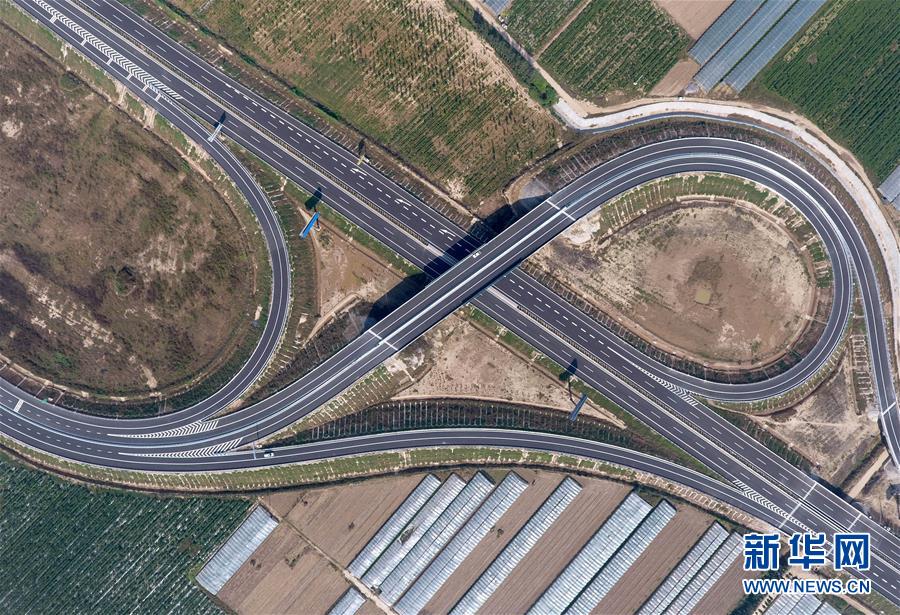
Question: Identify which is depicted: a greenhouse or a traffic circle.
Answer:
greenhouse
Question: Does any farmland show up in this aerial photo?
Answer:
Yes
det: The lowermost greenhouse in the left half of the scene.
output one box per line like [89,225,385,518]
[327,586,366,615]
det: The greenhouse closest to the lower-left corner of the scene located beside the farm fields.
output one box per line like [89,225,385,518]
[197,504,279,594]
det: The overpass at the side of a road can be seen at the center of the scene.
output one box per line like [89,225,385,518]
[363,194,577,364]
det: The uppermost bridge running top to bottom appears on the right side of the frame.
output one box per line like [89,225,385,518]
[878,402,900,483]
